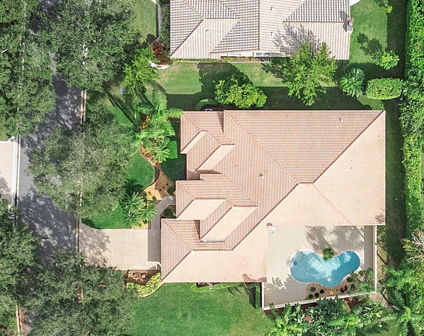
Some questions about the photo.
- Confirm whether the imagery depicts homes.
Yes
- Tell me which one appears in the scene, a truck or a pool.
pool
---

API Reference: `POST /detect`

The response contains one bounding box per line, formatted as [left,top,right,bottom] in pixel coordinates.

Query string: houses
[169,0,354,62]
[160,110,386,283]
